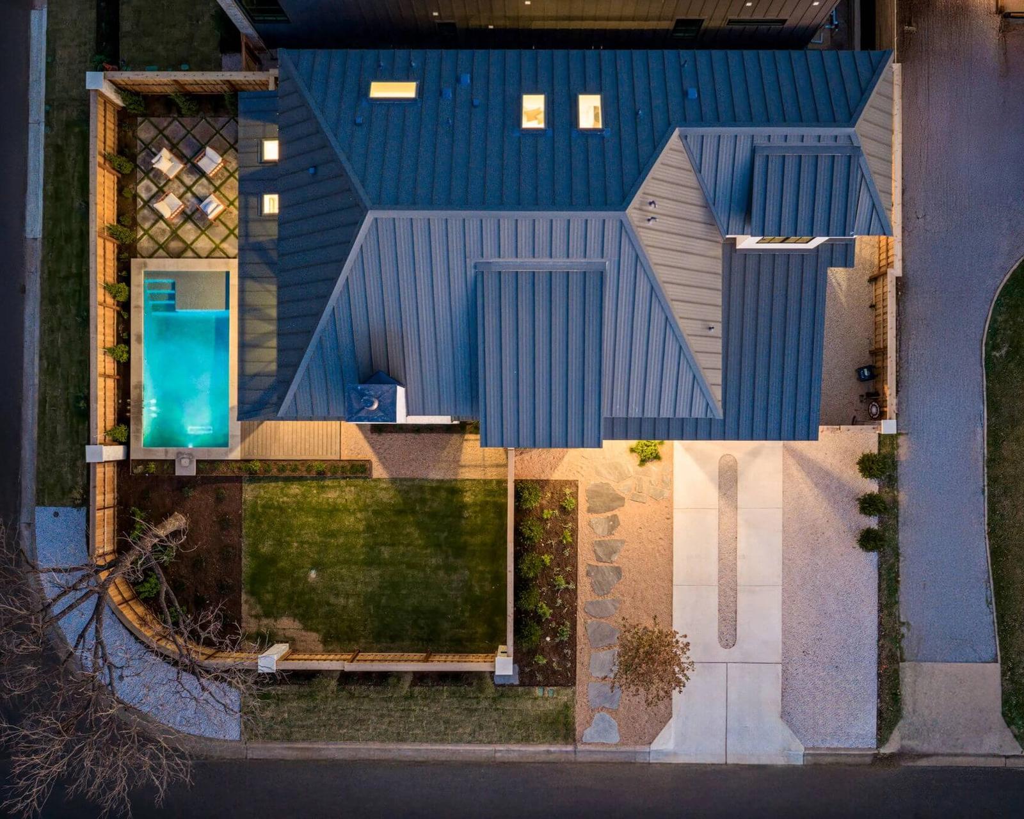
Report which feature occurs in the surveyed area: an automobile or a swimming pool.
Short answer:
swimming pool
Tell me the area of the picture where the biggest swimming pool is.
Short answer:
left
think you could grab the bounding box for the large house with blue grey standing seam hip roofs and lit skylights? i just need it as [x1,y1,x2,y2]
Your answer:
[237,47,895,448]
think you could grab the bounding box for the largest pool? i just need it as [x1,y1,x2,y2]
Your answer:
[131,258,239,459]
